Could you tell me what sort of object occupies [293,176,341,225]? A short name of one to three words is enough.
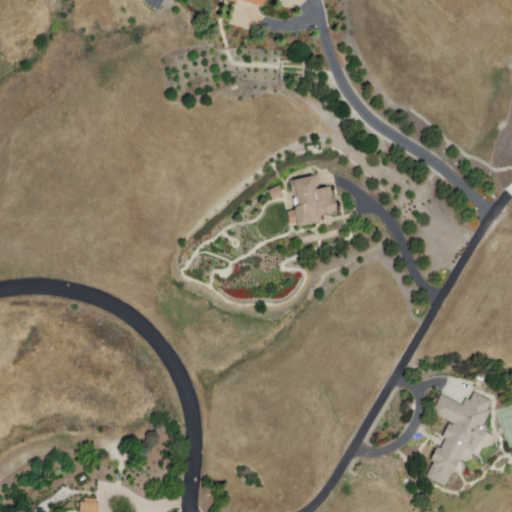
house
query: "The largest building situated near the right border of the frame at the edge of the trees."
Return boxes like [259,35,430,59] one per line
[428,392,498,488]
